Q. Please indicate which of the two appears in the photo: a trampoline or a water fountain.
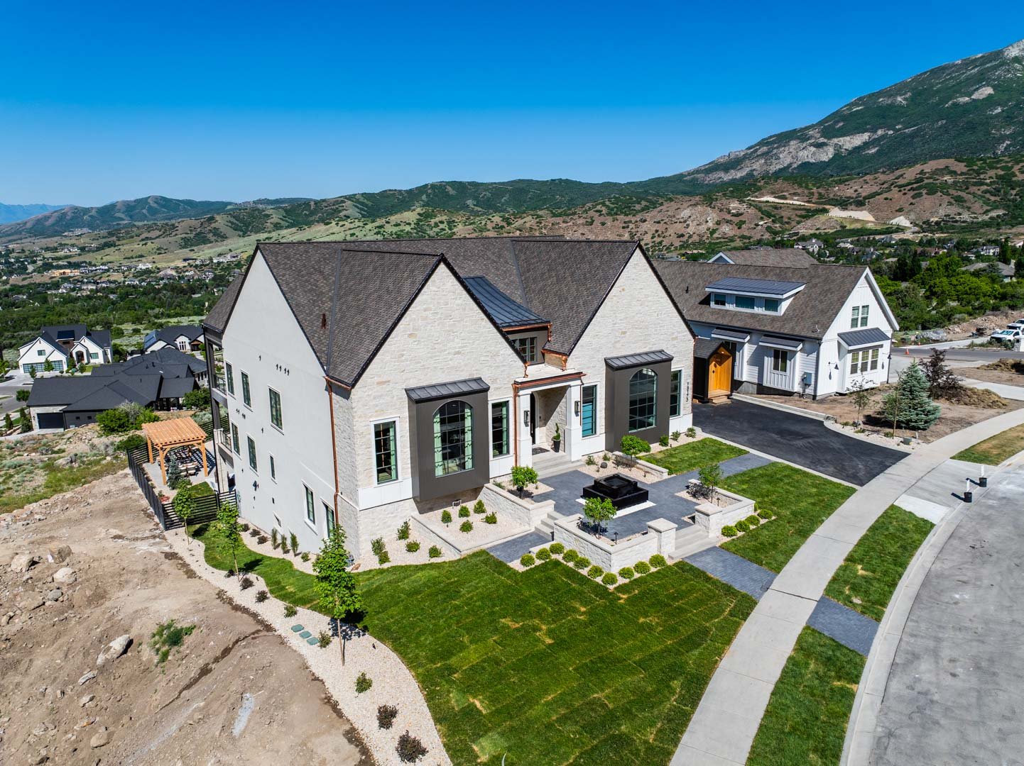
water fountain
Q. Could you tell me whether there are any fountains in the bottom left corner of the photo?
No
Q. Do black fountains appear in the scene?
Yes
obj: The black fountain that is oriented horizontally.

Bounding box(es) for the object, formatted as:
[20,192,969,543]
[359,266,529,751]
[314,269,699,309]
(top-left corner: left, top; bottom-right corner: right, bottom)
[568,473,663,518]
